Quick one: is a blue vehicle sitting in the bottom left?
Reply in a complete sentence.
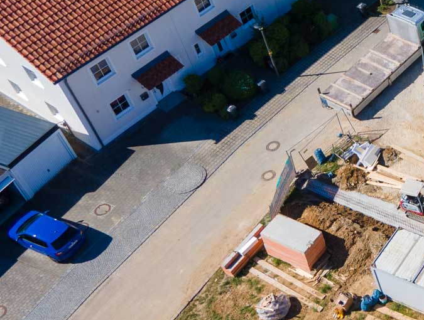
Yes, looking in the bottom left, one can make out a blue vehicle.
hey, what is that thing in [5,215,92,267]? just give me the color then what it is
blue car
